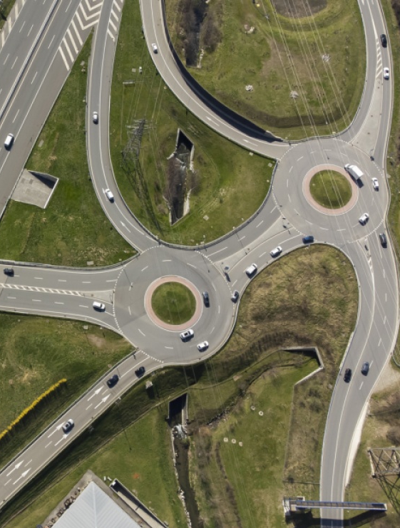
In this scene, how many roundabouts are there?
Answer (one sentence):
In total, 2 roundabouts can be seen.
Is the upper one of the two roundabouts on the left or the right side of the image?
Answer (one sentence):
The upper one of the two roundabouts sits on the right side.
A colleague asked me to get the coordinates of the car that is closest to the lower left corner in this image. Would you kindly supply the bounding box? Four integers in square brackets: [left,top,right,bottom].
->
[61,420,75,434]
